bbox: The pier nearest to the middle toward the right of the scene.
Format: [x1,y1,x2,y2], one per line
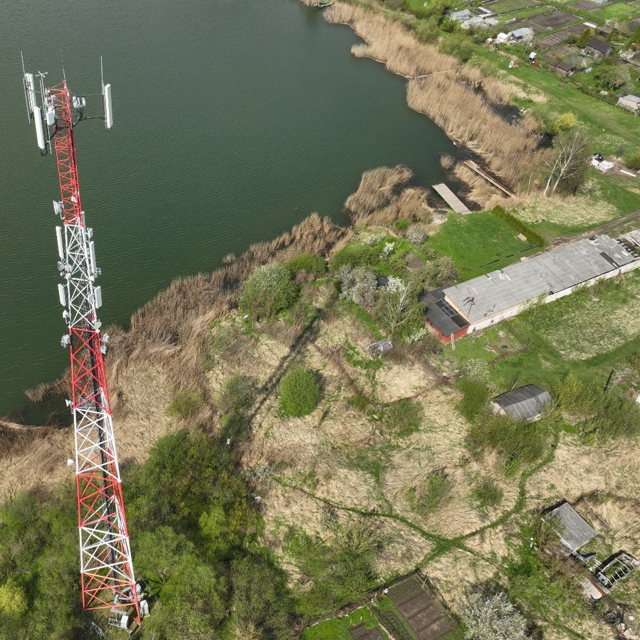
[432,184,470,215]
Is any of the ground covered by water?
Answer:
Yes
